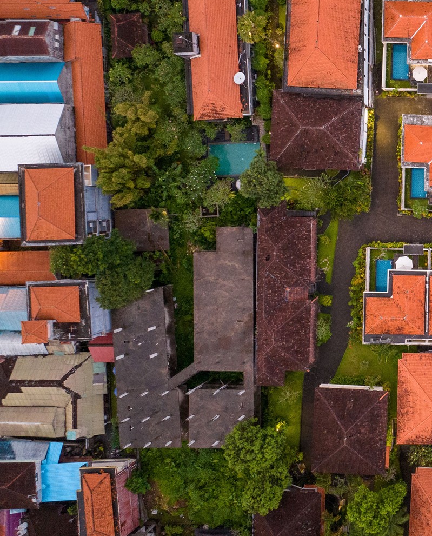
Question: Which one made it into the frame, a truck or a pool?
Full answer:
This aerial view contains a pool.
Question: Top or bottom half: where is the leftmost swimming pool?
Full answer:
The top half of the photo is where the leftmost swimming pool is.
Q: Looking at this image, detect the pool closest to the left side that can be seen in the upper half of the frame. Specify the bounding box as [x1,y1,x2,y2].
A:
[206,140,264,180]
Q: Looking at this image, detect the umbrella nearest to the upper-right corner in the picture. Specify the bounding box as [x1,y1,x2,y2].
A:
[413,67,427,81]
